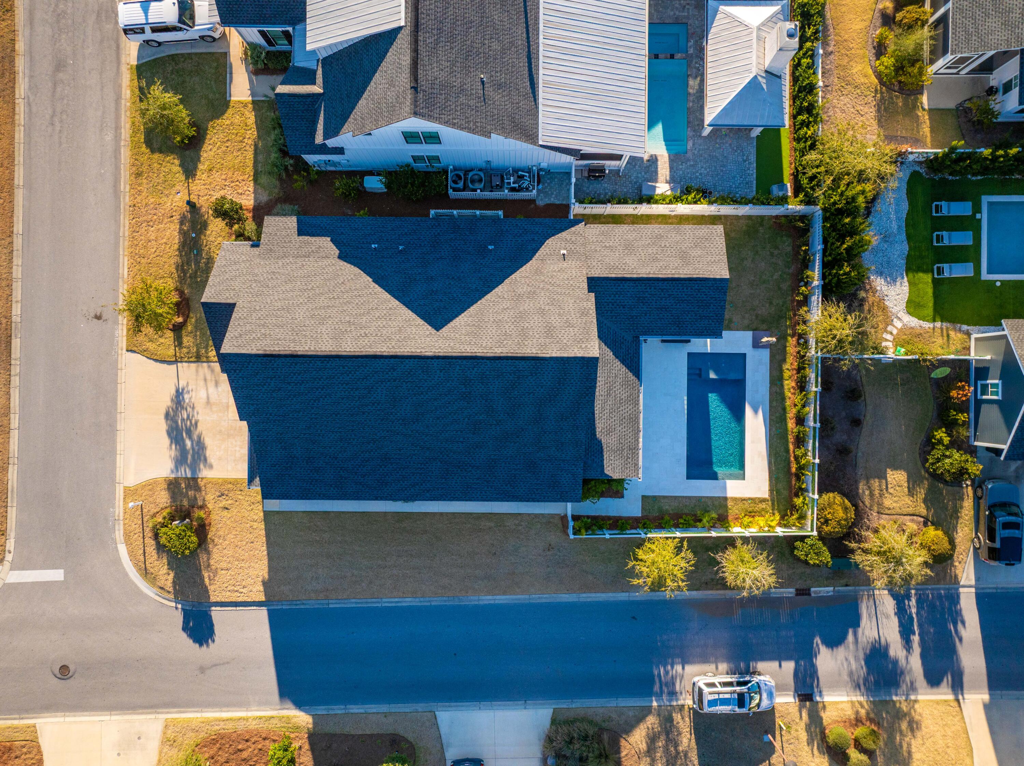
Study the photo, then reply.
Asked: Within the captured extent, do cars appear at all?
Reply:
Yes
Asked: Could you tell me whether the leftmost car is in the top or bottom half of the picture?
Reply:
top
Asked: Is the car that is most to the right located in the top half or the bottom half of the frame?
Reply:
bottom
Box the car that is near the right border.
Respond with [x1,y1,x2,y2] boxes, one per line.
[973,477,1024,564]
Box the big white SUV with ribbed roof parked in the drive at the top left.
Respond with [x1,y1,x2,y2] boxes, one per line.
[117,0,229,47]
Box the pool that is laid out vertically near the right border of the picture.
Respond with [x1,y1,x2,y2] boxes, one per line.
[988,201,1024,274]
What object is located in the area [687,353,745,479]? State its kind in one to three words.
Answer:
swimming pool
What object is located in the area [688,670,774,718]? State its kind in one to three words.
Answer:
car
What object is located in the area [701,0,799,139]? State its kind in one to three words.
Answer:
building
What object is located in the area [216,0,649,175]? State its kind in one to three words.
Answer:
house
